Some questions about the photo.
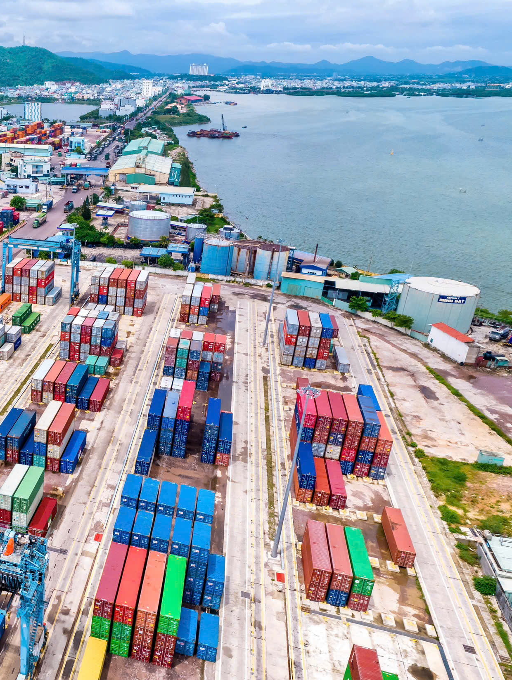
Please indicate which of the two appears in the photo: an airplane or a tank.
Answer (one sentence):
There is a tank in the scene.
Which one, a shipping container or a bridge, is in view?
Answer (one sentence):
Visible in the photo is a shipping container.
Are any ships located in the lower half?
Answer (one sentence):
No, there's no ship to be seen in the lower half.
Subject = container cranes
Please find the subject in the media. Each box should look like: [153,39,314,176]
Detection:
[0,232,86,304]
[0,506,62,680]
